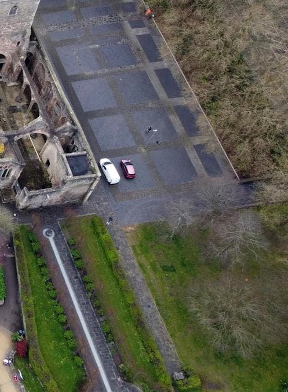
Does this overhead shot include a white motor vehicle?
Yes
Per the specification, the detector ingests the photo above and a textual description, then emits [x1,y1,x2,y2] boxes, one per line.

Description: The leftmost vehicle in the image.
[100,156,122,184]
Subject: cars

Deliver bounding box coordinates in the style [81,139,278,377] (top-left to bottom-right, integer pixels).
[100,156,122,184]
[121,158,139,181]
